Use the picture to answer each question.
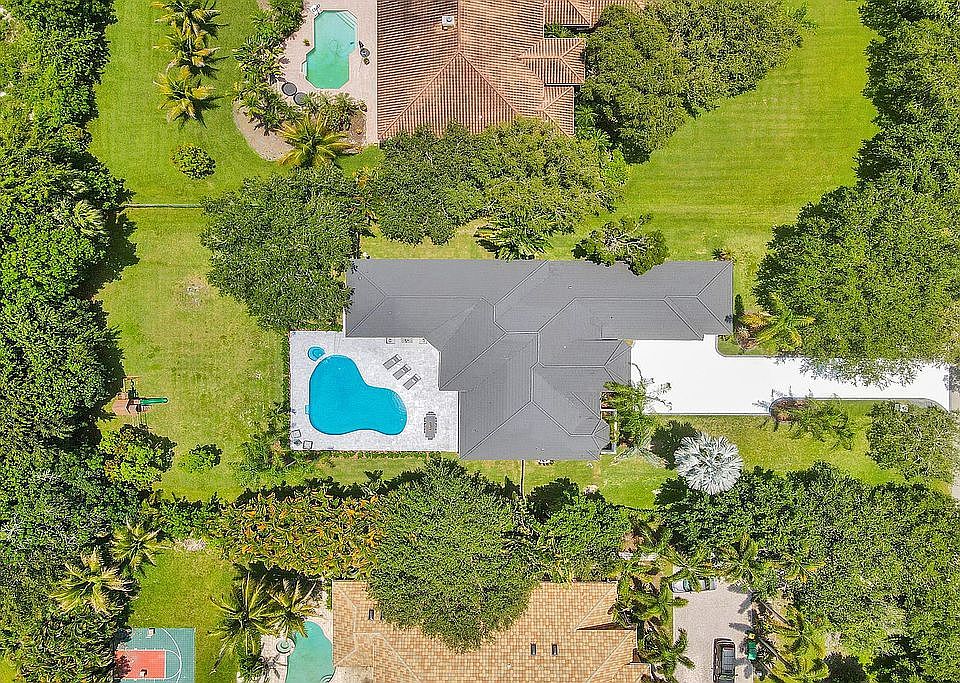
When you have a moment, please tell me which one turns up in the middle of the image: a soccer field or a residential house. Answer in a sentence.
You can see a residential house in the middle of the image.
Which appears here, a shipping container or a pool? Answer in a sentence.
This aerial view contains a pool.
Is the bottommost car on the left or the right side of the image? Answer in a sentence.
It is on the right.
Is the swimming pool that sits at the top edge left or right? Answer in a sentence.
The swimming pool that sits at the top edge is on the left side of the image.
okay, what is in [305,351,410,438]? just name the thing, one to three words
swimming pool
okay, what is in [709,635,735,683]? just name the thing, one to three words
car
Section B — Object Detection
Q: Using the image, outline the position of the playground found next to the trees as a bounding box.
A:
[111,375,167,433]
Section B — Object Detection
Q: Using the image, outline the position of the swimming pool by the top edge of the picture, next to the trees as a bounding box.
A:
[302,7,359,90]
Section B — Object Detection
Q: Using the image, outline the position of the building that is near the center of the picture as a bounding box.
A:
[346,259,733,461]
